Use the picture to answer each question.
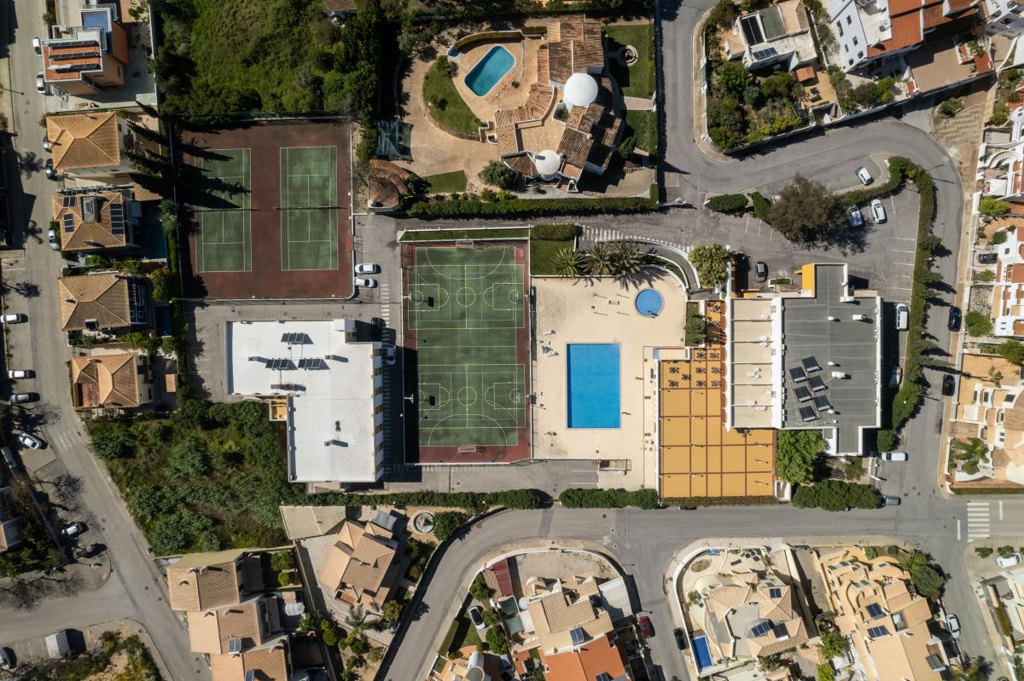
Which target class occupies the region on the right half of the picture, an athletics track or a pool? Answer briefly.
pool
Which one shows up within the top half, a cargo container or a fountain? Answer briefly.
fountain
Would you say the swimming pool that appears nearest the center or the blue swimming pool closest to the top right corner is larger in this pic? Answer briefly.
the swimming pool that appears nearest the center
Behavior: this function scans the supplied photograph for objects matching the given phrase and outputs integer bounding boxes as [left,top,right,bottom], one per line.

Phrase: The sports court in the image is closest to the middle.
[401,239,532,464]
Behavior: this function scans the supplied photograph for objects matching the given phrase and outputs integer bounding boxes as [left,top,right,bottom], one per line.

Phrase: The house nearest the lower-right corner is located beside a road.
[978,555,1024,653]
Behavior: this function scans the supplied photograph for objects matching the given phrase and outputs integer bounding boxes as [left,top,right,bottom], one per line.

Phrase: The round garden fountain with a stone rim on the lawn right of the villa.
[617,43,639,66]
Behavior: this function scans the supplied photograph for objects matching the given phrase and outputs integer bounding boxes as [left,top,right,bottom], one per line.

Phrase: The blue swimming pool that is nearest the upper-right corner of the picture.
[633,286,665,318]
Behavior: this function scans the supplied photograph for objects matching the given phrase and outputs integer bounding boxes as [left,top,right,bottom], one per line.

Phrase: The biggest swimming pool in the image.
[565,341,623,431]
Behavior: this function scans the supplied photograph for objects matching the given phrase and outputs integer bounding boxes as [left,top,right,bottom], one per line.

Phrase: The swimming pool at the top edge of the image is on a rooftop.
[86,11,109,39]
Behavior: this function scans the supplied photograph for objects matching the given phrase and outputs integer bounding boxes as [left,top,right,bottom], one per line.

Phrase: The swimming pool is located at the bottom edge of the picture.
[690,636,714,671]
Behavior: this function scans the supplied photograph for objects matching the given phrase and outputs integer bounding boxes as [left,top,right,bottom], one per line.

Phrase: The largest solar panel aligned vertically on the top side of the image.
[111,203,123,234]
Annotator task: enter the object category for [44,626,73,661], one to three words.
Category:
van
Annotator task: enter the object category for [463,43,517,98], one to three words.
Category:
swimming pool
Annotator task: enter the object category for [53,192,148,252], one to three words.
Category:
house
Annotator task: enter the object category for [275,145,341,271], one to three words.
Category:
tennis court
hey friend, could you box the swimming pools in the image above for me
[690,636,714,671]
[153,304,173,338]
[565,341,623,431]
[633,286,665,318]
[463,43,517,98]
[146,222,168,260]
